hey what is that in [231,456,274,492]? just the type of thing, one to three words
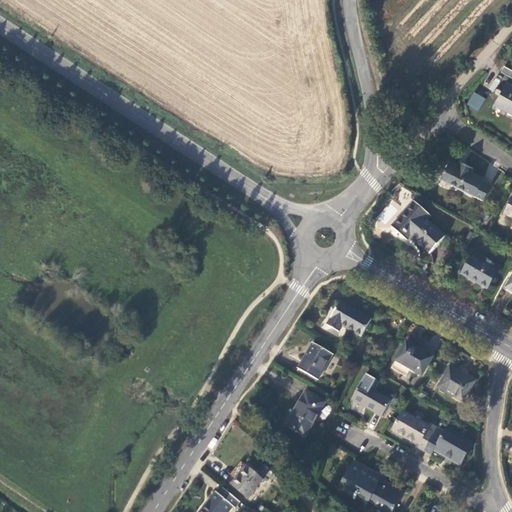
house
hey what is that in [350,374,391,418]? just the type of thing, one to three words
house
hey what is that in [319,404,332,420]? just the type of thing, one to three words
vehicle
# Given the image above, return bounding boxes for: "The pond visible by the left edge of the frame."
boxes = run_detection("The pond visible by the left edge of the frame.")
[18,279,109,343]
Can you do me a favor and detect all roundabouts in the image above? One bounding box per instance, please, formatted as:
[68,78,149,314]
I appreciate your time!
[250,146,396,293]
